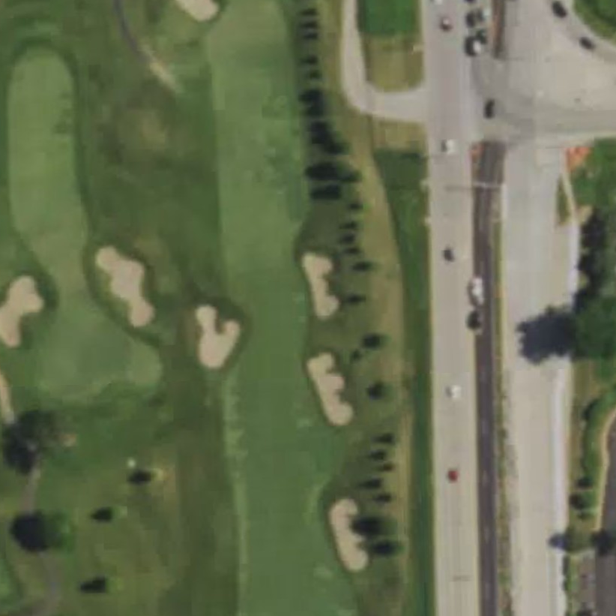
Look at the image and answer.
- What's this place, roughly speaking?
golf course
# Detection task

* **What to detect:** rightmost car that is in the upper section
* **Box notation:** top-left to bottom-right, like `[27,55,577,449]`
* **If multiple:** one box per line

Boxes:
[579,36,597,50]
